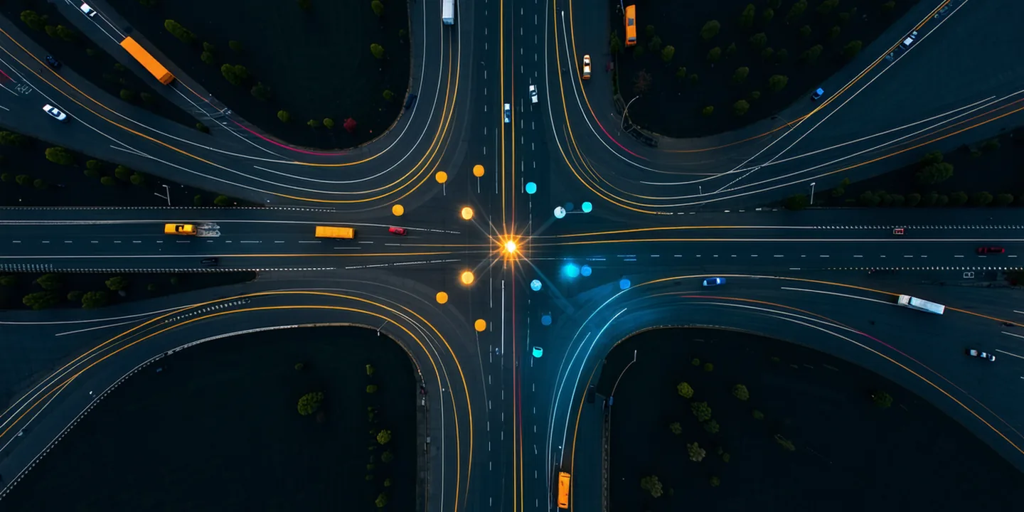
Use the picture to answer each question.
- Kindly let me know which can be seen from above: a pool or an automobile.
automobile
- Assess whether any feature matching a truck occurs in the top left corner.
Yes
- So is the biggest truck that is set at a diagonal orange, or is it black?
orange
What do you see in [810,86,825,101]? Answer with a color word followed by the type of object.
blue car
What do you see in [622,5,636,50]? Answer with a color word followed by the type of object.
orange vehicle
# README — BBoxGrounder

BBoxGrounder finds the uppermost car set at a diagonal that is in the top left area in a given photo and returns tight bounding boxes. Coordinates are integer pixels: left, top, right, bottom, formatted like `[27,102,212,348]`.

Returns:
[79,1,99,19]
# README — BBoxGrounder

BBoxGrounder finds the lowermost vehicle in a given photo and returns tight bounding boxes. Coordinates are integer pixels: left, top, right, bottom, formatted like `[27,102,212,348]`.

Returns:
[557,467,572,508]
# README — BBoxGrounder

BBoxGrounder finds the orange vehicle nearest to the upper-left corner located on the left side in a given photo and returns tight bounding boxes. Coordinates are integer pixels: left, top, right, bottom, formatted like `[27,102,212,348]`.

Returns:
[119,35,180,88]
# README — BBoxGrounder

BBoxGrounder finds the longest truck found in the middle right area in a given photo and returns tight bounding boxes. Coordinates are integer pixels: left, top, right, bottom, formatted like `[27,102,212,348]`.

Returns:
[890,292,946,314]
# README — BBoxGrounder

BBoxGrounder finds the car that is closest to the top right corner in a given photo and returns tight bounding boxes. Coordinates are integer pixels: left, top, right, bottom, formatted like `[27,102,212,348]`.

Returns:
[933,1,951,18]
